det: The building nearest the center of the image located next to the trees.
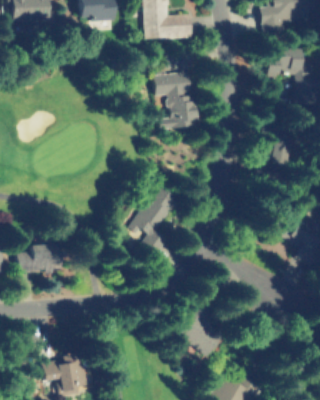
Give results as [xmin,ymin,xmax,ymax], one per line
[124,183,175,254]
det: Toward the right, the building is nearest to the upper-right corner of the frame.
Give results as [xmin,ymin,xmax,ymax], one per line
[261,0,298,27]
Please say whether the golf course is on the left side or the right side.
left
